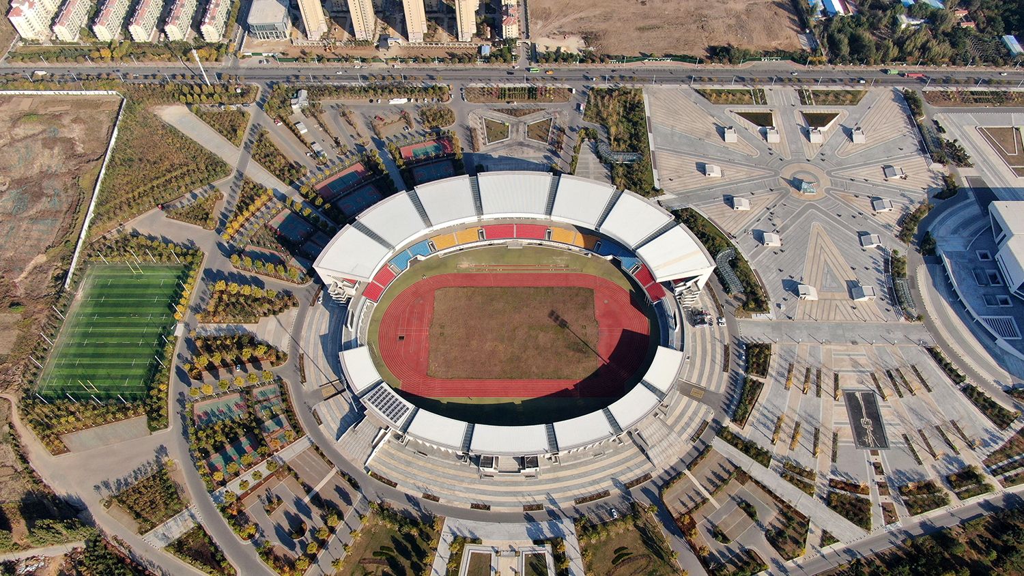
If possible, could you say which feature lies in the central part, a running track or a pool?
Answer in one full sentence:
Looking in the central part, you will find a running track.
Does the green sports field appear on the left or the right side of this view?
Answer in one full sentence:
The green sports field is on the left side of the image.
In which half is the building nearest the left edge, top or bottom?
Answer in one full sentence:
The building nearest the left edge is in the top half of the image.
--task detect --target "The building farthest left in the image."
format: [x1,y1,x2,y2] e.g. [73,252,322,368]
[1,0,57,41]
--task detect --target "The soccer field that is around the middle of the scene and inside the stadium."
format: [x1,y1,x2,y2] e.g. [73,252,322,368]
[427,287,599,380]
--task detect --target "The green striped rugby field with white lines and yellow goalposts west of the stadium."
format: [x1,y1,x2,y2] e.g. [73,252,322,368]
[36,262,187,402]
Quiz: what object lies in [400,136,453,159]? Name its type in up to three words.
tennis court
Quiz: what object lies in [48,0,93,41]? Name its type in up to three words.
building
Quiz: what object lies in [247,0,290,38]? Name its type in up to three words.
building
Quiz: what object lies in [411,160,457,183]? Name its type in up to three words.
basketball court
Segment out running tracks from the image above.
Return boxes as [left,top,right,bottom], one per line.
[376,273,651,398]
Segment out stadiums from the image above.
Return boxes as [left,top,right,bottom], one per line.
[313,170,715,476]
